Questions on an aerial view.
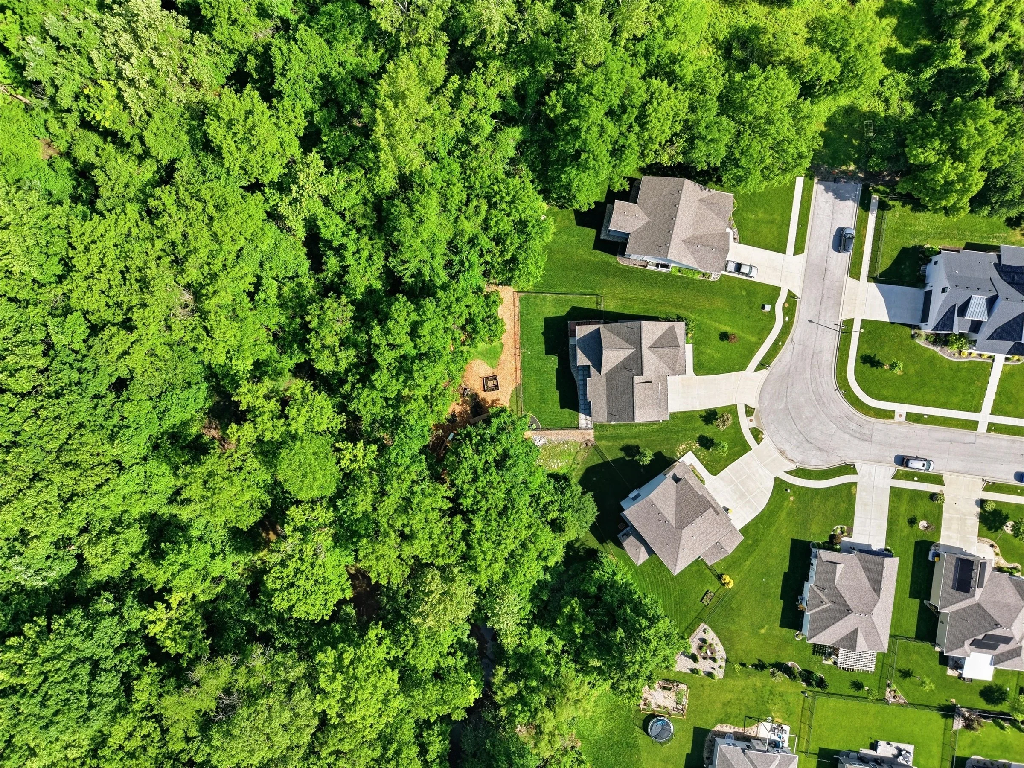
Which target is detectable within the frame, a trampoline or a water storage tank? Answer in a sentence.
Visible in the photo is a trampoline.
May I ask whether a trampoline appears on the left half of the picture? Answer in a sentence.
No, on the left half of the picture there is no trampoline.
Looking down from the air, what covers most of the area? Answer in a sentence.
For the most part, this view shows trees.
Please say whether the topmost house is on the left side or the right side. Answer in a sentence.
The topmost house appears in the right half of the scene.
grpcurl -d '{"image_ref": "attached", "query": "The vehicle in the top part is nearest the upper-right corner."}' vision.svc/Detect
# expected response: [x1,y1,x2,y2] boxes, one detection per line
[839,227,856,254]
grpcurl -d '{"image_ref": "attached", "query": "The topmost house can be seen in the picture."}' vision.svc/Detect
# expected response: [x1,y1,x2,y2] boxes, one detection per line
[609,176,734,273]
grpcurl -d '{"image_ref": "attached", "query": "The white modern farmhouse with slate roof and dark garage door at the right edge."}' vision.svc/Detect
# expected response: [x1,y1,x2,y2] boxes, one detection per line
[921,244,1024,357]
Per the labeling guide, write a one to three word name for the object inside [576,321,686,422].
house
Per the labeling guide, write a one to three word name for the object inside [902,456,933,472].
vehicle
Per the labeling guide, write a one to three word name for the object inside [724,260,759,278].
vehicle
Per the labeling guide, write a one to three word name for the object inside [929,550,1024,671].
house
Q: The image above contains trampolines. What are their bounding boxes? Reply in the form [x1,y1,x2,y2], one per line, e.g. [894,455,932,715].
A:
[648,717,676,746]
